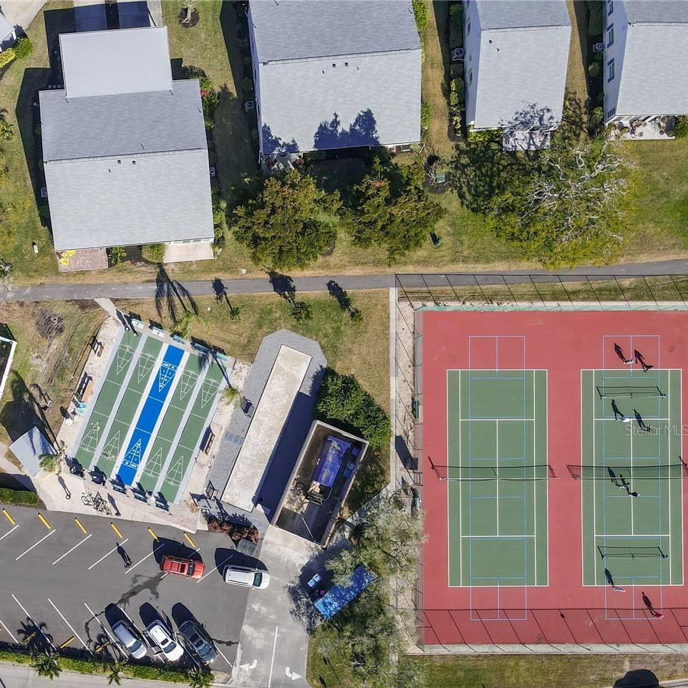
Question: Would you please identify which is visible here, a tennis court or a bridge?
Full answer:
Looking from above, you can make out a tennis court.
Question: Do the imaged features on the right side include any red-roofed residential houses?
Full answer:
No, there is no red-roofed residential house on the right side.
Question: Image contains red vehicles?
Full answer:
Yes, there's a red vehicle down there.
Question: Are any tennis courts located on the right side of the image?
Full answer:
Yes, looking on the right side of the image, one can make out a tennis court.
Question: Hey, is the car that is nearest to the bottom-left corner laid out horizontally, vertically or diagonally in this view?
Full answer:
What the image shows is the car that is nearest to the bottom-left corner lying diagonally.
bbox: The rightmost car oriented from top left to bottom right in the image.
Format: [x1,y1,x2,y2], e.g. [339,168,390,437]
[179,622,219,665]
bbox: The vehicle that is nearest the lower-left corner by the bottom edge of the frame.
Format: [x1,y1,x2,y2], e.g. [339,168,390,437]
[111,620,149,661]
